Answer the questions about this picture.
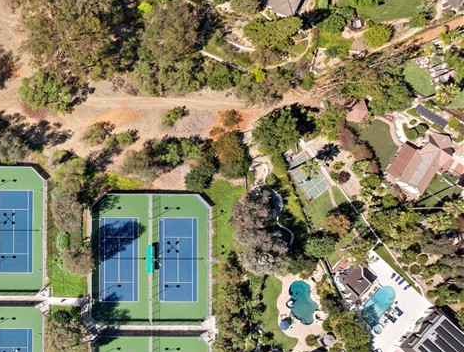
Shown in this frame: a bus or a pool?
pool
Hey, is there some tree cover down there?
Yes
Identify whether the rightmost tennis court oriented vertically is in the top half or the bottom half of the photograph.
bottom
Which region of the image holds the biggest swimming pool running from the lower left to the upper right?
bottom right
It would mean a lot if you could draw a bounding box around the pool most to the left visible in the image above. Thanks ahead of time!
[287,278,320,325]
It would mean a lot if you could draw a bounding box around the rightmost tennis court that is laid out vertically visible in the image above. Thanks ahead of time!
[149,195,208,324]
